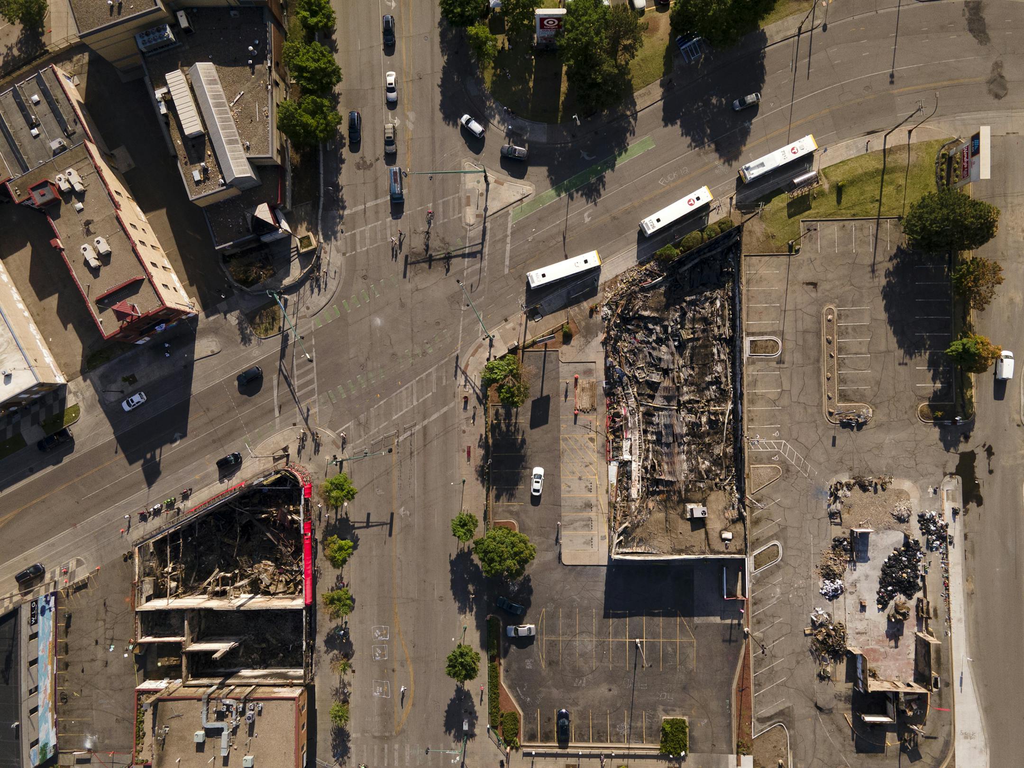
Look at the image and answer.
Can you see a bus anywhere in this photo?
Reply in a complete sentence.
Yes, the photo shows a bus.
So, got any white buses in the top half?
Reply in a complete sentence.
Yes, in the top half there is a white bus.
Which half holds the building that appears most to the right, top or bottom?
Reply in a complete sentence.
The bottom half of the photo is where the building that appears most to the right is.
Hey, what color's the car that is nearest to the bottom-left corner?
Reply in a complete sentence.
In this view, the car that is nearest to the bottom-left corner is black.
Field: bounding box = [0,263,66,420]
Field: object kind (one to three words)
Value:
building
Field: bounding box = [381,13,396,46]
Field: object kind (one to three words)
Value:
car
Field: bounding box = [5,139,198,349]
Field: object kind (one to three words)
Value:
building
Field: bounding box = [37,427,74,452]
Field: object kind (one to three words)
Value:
truck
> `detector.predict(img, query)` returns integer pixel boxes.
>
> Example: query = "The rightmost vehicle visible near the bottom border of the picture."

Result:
[556,709,570,742]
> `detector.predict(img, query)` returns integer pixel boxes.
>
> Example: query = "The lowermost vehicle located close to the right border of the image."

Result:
[995,351,1014,380]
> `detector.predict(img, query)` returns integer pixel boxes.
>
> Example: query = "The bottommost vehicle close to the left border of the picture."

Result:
[15,563,47,585]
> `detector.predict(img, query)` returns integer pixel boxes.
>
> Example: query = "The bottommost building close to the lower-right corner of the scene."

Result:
[842,626,938,723]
